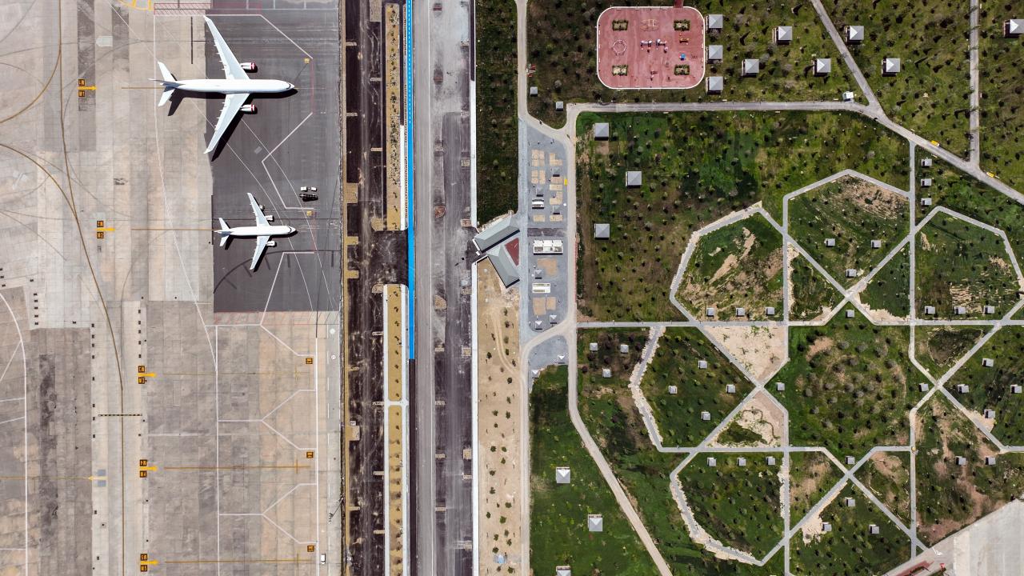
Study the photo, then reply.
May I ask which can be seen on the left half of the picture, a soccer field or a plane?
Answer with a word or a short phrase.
plane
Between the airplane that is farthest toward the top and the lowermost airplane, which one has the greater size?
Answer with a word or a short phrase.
the airplane that is farthest toward the top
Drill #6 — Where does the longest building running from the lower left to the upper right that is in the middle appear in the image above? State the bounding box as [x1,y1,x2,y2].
[474,216,520,251]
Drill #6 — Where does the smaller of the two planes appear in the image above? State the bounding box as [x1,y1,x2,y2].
[214,192,296,269]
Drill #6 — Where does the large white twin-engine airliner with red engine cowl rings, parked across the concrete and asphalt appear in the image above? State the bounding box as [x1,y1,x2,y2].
[148,15,295,153]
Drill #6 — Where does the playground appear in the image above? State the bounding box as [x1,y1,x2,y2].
[598,7,705,88]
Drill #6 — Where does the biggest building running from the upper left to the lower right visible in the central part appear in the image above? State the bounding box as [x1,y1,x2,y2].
[487,245,520,287]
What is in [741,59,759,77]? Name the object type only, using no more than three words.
building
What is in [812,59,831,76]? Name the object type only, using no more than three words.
building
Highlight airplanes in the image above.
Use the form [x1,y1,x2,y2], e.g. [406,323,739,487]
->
[214,192,296,269]
[148,15,295,153]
